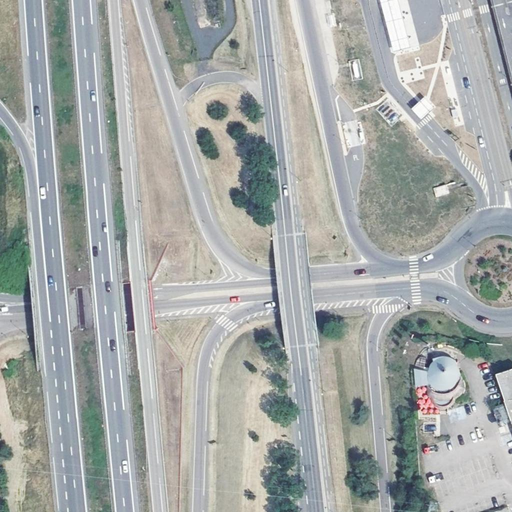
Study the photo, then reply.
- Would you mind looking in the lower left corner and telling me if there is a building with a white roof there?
No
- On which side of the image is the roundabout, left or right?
right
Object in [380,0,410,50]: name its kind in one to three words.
building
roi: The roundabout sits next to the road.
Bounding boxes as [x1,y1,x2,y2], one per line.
[436,208,512,336]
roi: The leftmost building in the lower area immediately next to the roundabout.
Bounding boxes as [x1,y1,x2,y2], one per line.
[414,347,469,402]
